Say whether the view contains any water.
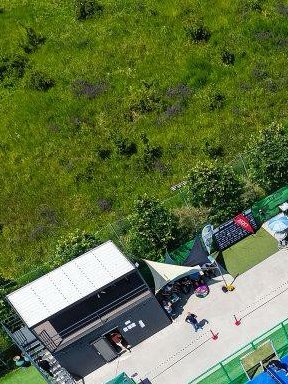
No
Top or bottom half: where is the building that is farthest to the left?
bottom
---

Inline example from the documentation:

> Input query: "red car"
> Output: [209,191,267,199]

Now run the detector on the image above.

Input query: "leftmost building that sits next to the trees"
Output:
[7,239,169,379]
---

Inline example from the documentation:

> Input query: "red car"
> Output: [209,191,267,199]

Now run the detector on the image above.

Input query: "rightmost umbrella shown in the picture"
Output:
[267,217,288,248]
